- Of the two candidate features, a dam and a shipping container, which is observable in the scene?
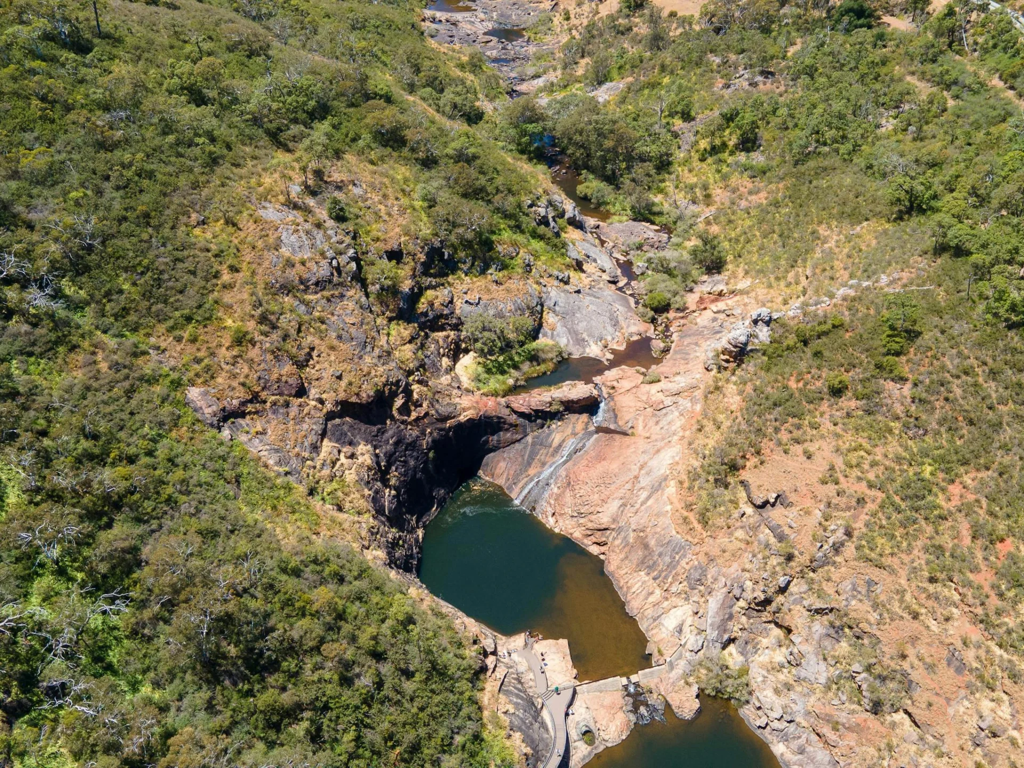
dam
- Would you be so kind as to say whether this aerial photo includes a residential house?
No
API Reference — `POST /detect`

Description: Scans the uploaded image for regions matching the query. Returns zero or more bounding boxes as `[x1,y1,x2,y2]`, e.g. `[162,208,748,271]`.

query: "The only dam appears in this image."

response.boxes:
[574,637,691,694]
